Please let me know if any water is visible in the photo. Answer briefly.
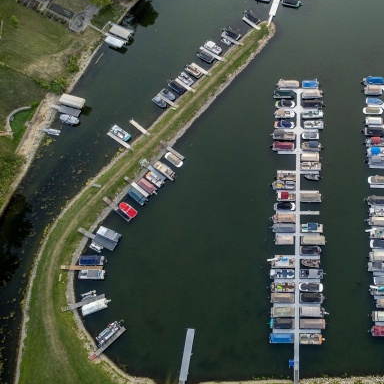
Yes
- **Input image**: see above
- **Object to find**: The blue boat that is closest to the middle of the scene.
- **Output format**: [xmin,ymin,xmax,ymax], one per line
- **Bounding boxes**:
[128,188,149,207]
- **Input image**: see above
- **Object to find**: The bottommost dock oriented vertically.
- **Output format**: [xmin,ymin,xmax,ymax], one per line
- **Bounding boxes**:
[179,329,195,384]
